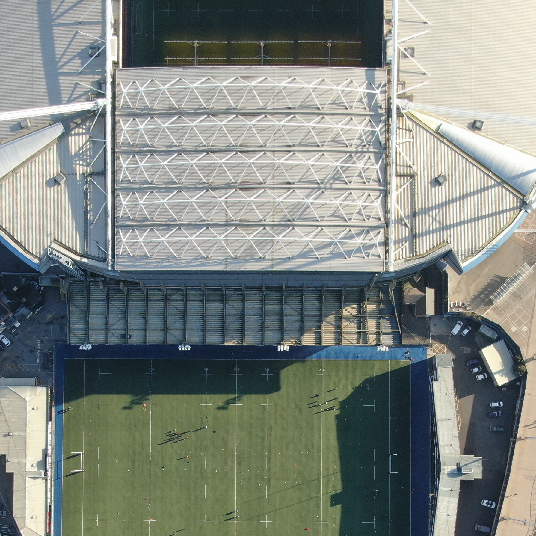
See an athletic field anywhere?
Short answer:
Yes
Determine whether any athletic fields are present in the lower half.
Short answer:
Yes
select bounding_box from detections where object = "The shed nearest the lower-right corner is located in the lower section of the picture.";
[476,341,520,387]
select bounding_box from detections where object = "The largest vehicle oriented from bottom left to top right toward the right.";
[451,321,463,336]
